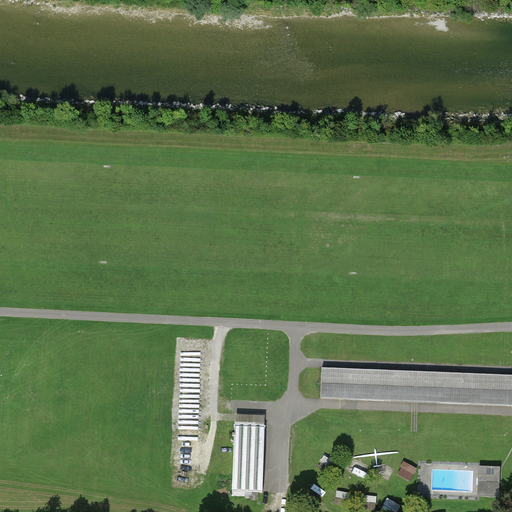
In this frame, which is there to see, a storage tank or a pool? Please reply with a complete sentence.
This aerial view contains a pool.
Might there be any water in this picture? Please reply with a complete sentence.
Yes, water shows up in the scene.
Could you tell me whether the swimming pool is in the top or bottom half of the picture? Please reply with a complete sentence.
It is in the bottom half that the swimming pool appears.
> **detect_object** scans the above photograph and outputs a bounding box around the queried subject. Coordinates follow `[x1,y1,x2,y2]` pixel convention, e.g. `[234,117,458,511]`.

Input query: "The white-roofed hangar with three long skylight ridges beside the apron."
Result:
[232,412,266,500]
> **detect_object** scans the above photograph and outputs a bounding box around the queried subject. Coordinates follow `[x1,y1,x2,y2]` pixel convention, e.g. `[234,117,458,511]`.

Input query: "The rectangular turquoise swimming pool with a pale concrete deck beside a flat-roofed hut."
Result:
[418,461,480,500]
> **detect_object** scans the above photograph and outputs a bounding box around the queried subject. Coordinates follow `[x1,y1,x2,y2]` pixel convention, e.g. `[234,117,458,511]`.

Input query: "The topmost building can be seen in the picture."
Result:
[320,368,512,407]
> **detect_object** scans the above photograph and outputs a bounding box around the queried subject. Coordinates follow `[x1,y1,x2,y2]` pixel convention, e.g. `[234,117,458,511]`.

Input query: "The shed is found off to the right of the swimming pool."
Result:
[478,466,500,498]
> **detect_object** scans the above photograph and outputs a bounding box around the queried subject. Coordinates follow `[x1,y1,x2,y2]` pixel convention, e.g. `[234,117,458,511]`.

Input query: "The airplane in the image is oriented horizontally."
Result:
[354,449,398,468]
